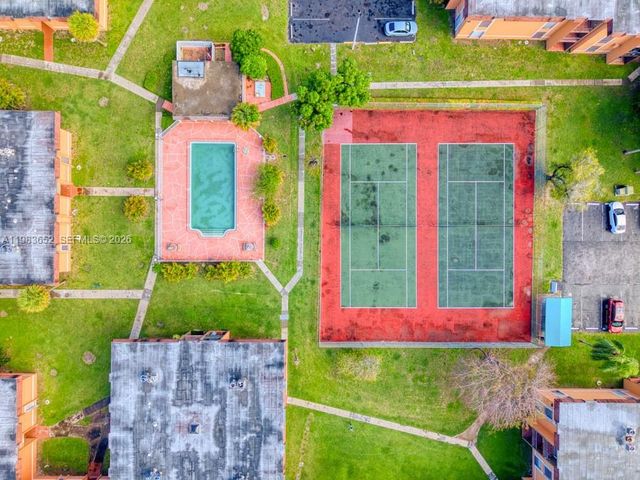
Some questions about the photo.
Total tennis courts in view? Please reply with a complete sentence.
The count of tennis courts comes to 2.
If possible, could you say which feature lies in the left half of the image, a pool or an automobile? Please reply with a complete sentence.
There is a pool in the left half of the image.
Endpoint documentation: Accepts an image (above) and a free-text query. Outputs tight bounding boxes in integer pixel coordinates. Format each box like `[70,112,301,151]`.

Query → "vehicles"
[382,19,416,36]
[607,201,626,234]
[606,299,626,332]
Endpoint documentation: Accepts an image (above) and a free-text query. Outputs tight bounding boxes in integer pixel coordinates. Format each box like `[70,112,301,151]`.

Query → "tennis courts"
[431,144,524,308]
[334,144,425,308]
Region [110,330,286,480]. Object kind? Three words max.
building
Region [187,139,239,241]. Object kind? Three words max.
swimming pool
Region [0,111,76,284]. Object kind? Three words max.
building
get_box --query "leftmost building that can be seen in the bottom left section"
[0,371,111,480]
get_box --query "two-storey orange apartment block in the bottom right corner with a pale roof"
[526,378,640,480]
